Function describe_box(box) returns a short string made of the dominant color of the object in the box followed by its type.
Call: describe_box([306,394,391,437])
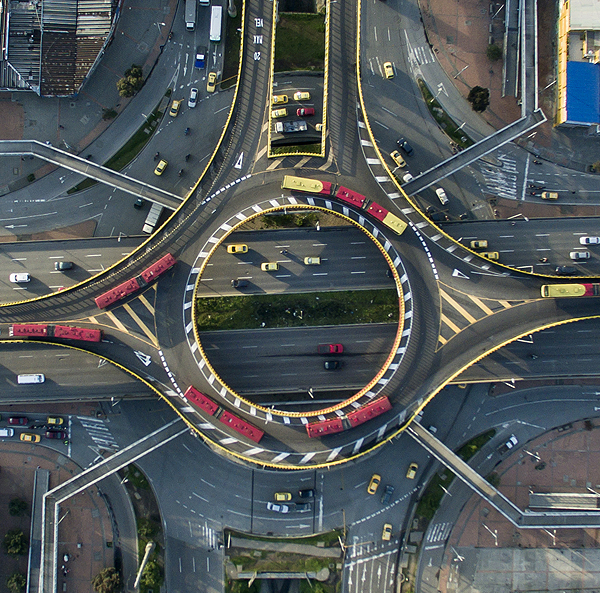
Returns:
red bus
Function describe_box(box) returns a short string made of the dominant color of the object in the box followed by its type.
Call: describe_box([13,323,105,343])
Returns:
red bus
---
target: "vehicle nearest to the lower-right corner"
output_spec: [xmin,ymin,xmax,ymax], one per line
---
[497,434,519,453]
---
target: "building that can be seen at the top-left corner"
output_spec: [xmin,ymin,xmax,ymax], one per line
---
[0,0,118,97]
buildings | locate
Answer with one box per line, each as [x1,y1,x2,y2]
[557,0,600,129]
[0,0,118,97]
